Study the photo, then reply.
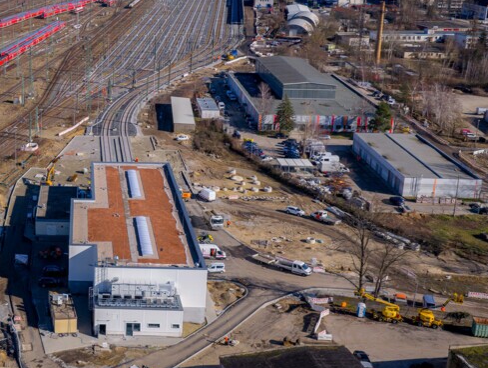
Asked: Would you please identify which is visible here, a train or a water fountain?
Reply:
train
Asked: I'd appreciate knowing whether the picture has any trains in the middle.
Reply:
No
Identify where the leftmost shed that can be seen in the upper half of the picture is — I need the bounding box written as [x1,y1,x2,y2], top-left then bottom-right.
[160,96,197,131]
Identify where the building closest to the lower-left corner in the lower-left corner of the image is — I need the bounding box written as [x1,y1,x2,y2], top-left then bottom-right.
[50,286,77,334]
